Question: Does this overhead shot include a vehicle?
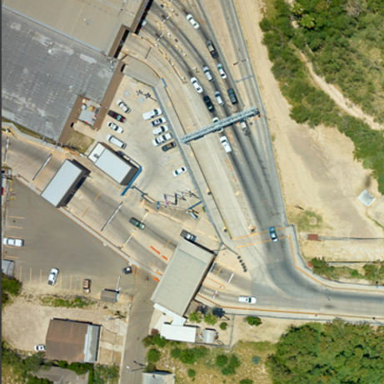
Yes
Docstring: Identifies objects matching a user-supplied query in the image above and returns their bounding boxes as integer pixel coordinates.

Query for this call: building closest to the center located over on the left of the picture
[88,143,138,184]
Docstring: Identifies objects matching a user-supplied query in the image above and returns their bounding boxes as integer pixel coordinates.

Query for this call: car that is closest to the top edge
[185,12,199,29]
